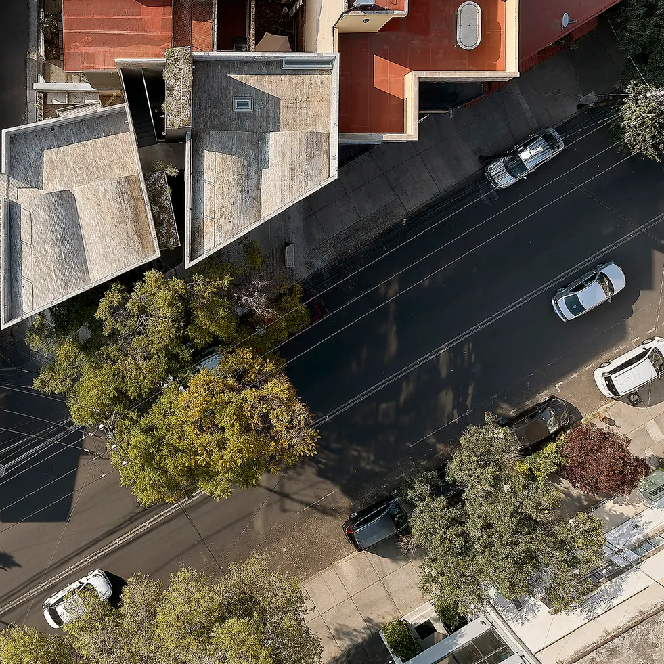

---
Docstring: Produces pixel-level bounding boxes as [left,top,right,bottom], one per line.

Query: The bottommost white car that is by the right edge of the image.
[591,337,664,400]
